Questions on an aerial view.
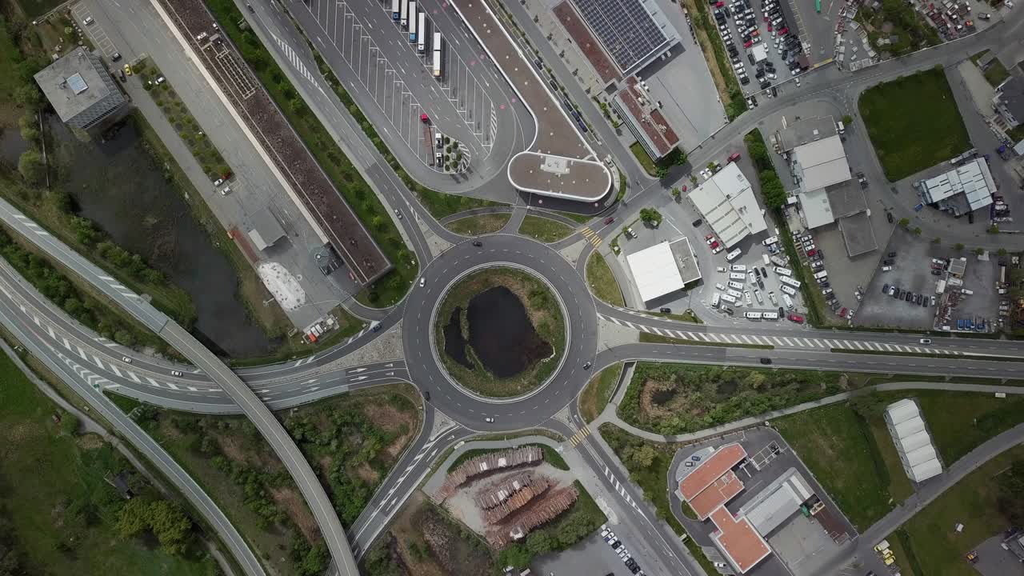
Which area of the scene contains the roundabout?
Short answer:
center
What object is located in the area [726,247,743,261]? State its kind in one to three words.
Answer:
camper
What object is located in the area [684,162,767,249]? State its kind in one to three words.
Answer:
building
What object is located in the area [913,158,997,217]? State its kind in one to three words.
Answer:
building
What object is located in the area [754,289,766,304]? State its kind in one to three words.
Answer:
vehicle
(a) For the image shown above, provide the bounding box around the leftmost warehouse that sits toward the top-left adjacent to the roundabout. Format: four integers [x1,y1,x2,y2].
[150,0,395,282]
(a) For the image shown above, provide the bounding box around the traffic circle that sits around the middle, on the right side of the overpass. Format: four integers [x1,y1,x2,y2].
[402,234,598,430]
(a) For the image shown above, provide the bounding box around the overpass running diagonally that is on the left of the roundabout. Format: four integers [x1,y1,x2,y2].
[0,197,360,576]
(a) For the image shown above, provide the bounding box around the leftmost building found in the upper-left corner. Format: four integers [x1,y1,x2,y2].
[34,47,127,128]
